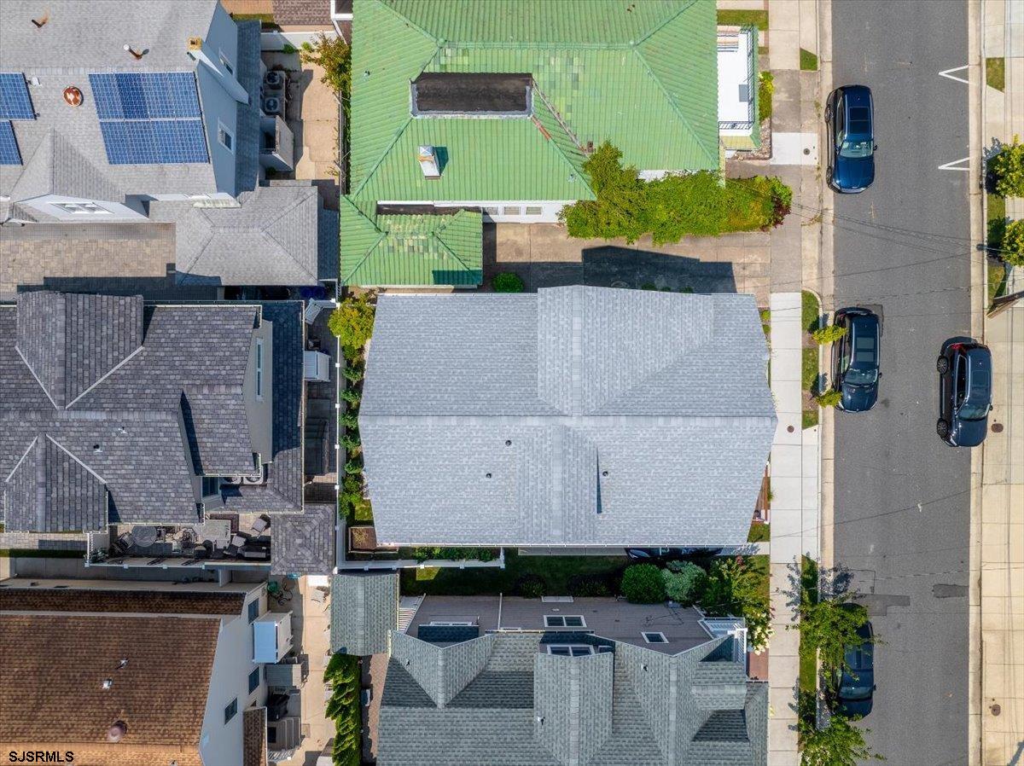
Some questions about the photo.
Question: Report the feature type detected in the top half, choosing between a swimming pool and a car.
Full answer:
What appears in the top half is a car.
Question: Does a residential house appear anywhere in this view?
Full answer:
Yes, a residential house appears in the view.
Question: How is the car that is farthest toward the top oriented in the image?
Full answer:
The car that is farthest toward the top is oriented vertically.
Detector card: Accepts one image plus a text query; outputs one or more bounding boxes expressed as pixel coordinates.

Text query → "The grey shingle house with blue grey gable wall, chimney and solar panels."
[0,0,329,295]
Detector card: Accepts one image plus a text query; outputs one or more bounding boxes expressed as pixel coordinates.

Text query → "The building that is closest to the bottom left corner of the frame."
[0,584,272,766]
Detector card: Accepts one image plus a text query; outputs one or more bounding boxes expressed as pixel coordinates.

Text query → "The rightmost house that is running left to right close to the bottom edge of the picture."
[376,594,768,766]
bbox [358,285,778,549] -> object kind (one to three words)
house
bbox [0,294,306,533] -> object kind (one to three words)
house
